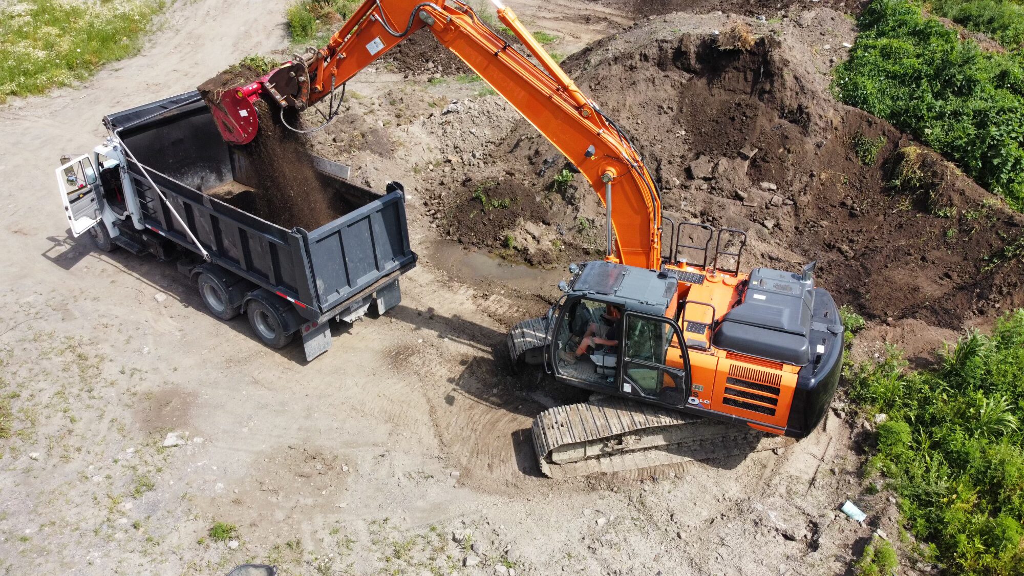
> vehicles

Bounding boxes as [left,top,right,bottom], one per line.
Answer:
[191,0,847,482]
[55,88,419,366]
